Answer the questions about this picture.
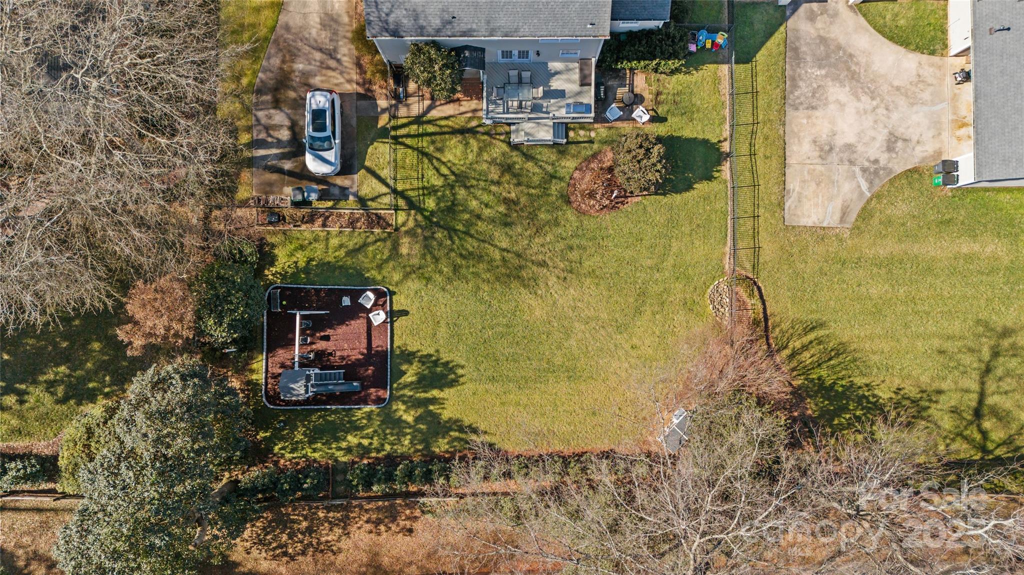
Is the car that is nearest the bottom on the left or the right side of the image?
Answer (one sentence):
The car that is nearest the bottom is on the left side of the image.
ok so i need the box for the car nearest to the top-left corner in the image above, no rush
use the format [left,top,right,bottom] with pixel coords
[300,89,344,178]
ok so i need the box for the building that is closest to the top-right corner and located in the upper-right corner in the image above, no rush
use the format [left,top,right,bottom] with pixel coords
[940,0,1024,188]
